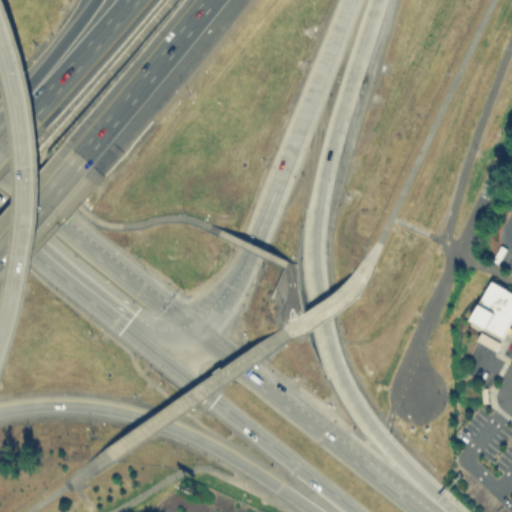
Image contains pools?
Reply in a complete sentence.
No, there isn't any pool down there.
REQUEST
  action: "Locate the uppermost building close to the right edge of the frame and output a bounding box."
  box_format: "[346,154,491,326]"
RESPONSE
[468,280,512,342]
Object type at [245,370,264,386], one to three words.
vehicle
